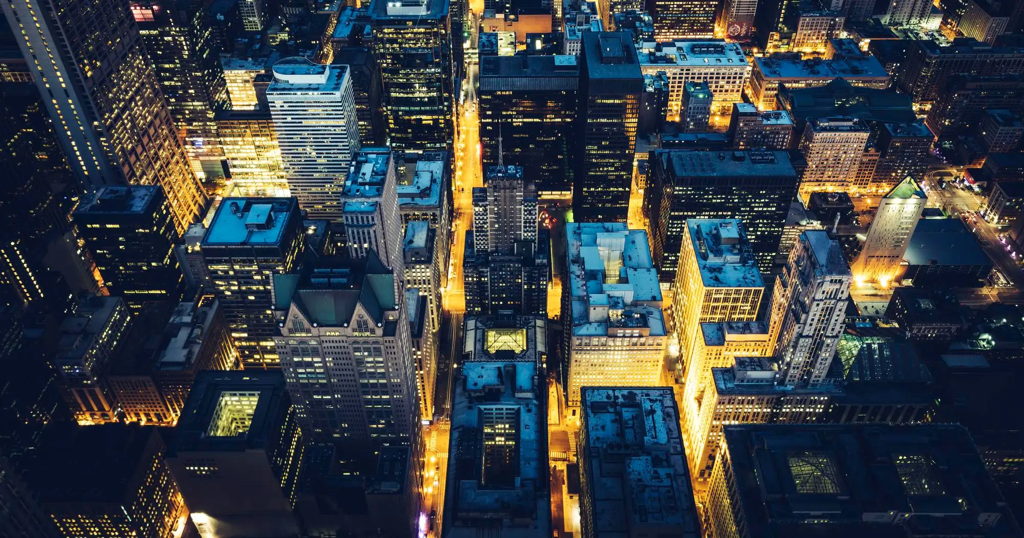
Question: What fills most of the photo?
buildings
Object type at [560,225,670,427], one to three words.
building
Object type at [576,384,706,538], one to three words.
building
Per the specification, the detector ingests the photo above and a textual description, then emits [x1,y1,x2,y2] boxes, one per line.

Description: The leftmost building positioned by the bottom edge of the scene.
[0,425,194,538]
